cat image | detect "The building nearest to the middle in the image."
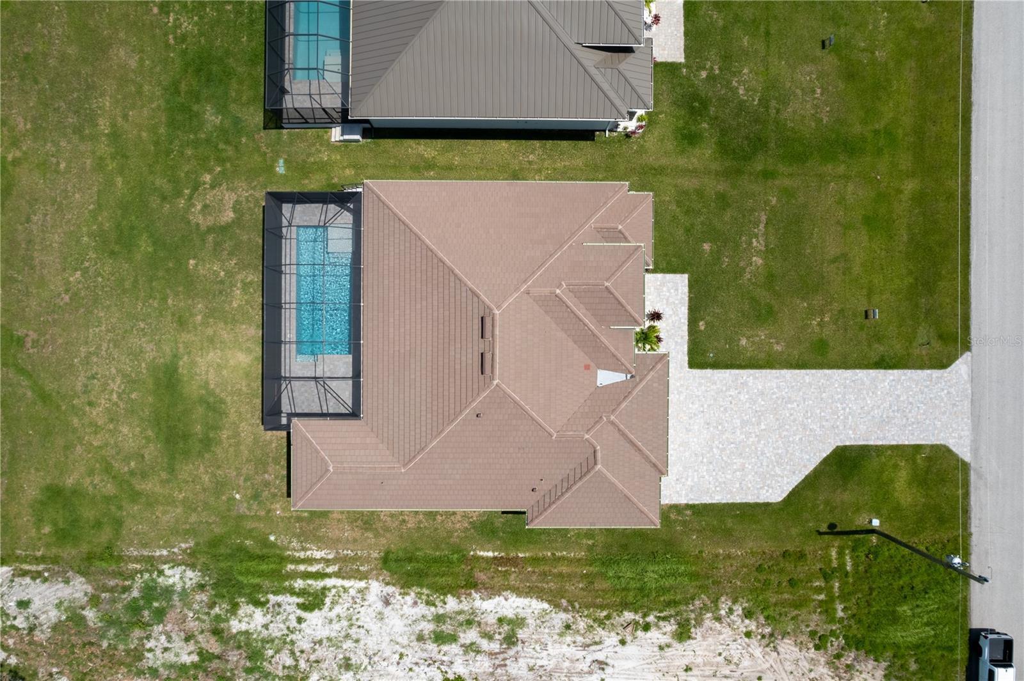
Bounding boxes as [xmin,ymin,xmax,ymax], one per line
[291,180,668,528]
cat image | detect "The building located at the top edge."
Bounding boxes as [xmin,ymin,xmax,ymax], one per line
[351,0,655,135]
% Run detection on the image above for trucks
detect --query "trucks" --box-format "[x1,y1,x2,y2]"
[971,629,1014,681]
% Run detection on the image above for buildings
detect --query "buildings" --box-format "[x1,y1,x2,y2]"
[291,180,668,528]
[351,0,655,135]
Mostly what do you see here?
grass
